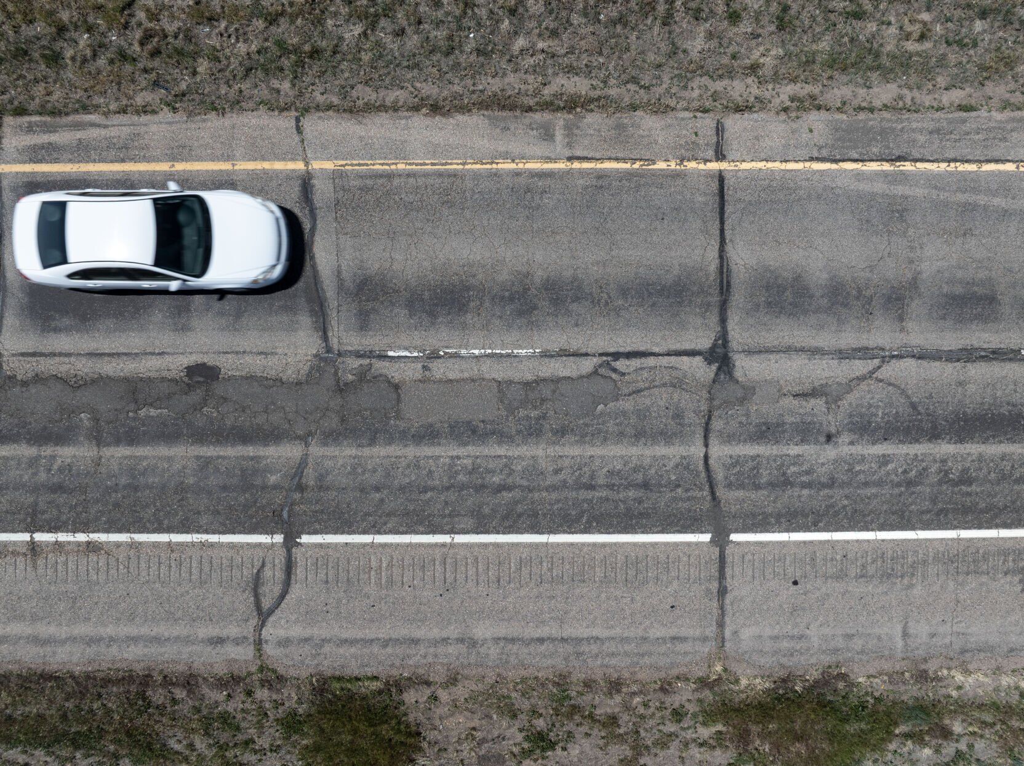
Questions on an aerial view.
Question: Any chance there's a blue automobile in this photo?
No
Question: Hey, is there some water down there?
No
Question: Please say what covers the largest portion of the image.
paved ground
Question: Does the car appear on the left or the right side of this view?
left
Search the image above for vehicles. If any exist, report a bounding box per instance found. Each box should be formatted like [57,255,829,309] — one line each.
[13,181,289,291]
